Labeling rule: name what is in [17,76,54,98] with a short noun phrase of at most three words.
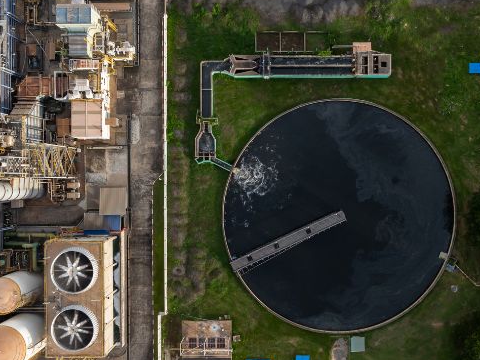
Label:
shed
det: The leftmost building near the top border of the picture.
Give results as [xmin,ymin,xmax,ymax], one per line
[54,1,109,33]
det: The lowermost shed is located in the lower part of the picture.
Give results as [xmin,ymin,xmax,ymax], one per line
[180,316,233,360]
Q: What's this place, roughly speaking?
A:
industrial area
